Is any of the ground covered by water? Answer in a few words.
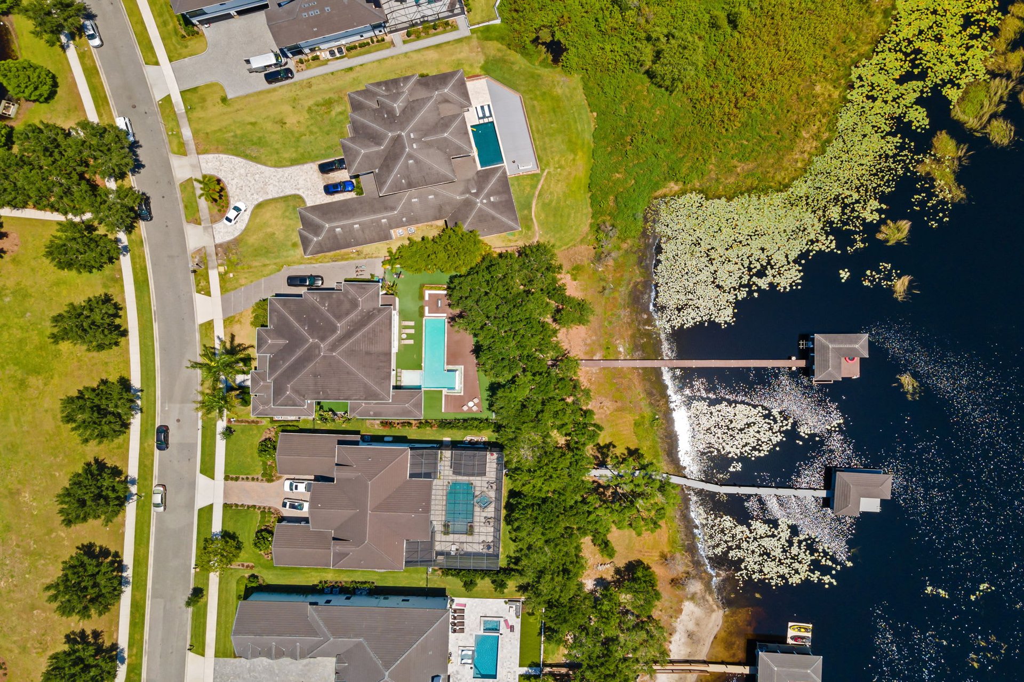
Yes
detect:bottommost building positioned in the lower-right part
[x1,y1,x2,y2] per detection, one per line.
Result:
[745,640,824,682]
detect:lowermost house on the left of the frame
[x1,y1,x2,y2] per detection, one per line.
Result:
[232,591,455,682]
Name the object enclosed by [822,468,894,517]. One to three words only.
building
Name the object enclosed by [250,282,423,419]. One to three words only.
house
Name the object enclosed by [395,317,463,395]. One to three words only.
swimming pool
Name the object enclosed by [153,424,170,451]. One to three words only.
car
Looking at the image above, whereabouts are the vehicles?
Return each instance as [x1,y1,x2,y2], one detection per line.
[263,66,295,84]
[240,51,285,71]
[287,272,323,288]
[115,114,136,144]
[282,497,308,513]
[323,180,355,195]
[83,18,104,49]
[137,193,153,222]
[317,157,347,174]
[221,199,249,228]
[153,424,170,451]
[285,479,320,494]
